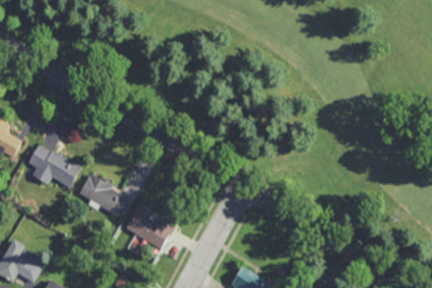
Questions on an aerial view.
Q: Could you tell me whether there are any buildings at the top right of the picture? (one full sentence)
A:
No, there is no building at the top right of the picture.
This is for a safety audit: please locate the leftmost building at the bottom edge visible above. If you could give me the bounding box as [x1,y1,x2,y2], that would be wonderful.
[0,237,42,288]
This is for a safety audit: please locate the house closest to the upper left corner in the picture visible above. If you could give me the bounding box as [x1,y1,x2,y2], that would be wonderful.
[0,112,22,154]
